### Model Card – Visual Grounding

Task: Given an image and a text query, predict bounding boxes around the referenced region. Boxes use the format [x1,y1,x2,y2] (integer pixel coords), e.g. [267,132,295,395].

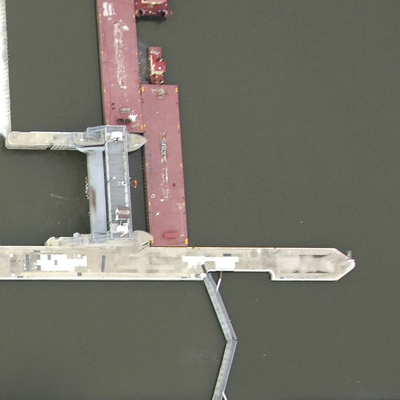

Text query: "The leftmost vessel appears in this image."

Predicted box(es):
[95,0,146,134]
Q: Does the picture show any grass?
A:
No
